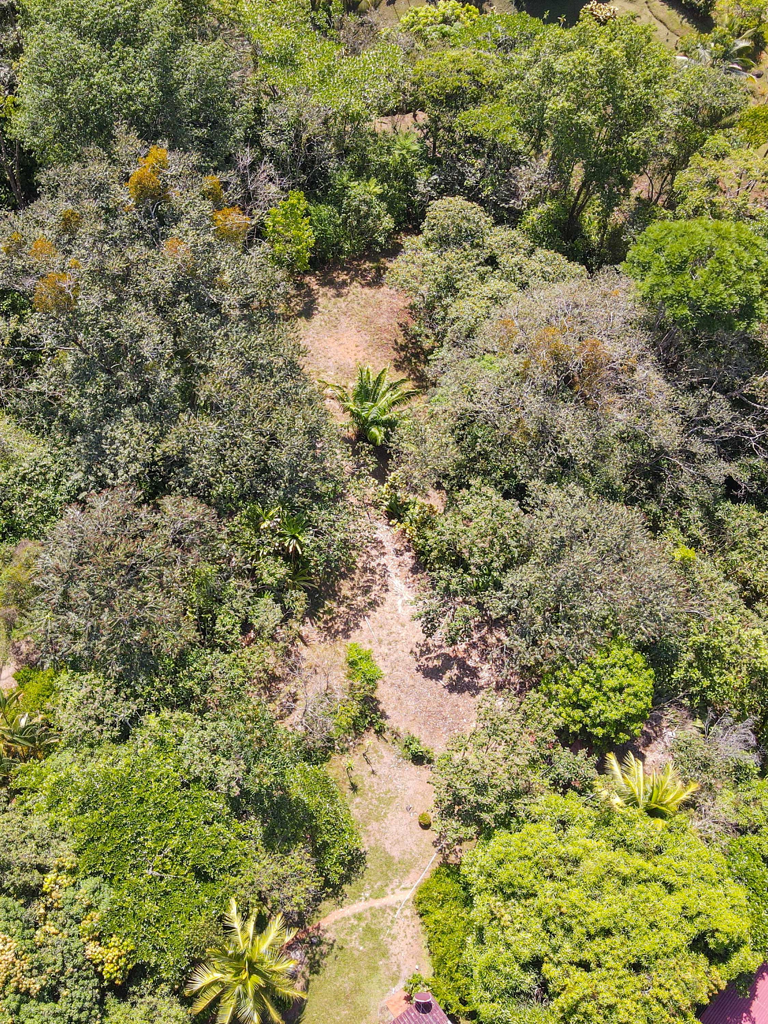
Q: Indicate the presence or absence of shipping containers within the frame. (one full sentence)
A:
No, no shipping container is visible in the view.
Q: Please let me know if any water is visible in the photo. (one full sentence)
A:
No, there's no water in this view.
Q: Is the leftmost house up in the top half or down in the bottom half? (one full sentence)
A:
You can find the leftmost house in the bottom half.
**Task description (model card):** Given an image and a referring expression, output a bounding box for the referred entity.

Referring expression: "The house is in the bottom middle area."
[393,992,451,1024]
